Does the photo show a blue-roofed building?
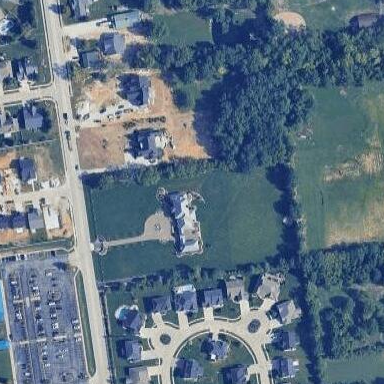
Yes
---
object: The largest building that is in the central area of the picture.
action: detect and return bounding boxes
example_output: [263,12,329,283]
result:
[168,192,207,258]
